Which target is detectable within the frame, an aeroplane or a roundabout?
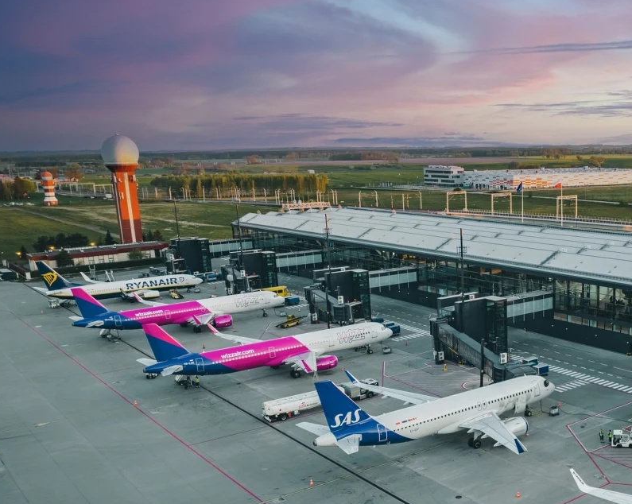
aeroplane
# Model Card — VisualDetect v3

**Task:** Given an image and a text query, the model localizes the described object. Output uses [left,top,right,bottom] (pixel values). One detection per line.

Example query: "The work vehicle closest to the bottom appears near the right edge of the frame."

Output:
[611,431,632,449]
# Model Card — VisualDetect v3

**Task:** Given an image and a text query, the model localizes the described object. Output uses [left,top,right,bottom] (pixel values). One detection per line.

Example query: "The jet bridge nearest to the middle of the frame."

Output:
[291,290,349,334]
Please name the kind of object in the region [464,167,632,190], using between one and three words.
building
